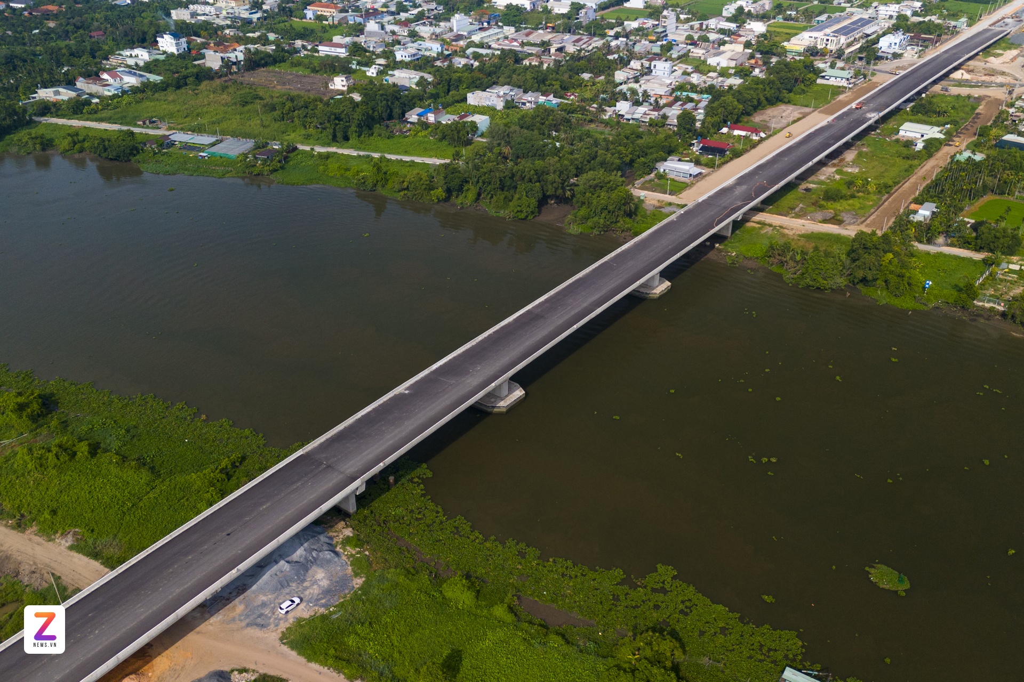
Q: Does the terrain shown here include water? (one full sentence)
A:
Yes, water shows up in the scene.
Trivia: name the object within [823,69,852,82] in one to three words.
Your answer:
house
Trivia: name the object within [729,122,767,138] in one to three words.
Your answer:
house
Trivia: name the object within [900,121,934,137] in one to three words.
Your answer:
building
